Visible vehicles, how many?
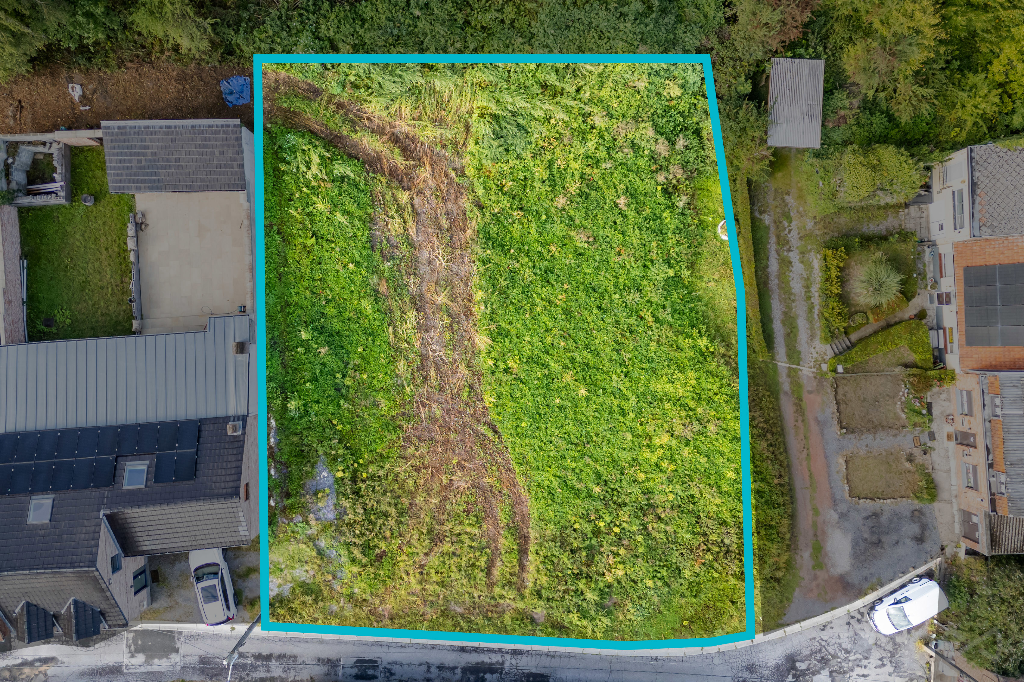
2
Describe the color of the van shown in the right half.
white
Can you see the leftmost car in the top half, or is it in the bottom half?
bottom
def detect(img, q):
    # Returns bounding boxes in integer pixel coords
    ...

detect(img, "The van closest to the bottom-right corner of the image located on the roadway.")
[864,574,956,638]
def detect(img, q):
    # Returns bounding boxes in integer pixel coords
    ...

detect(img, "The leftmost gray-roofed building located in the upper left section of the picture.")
[100,118,263,200]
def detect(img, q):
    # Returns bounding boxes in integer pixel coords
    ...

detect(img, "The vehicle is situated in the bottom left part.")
[190,549,242,627]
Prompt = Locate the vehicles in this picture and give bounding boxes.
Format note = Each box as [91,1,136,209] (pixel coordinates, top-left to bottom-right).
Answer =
[190,549,242,627]
[864,574,956,638]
